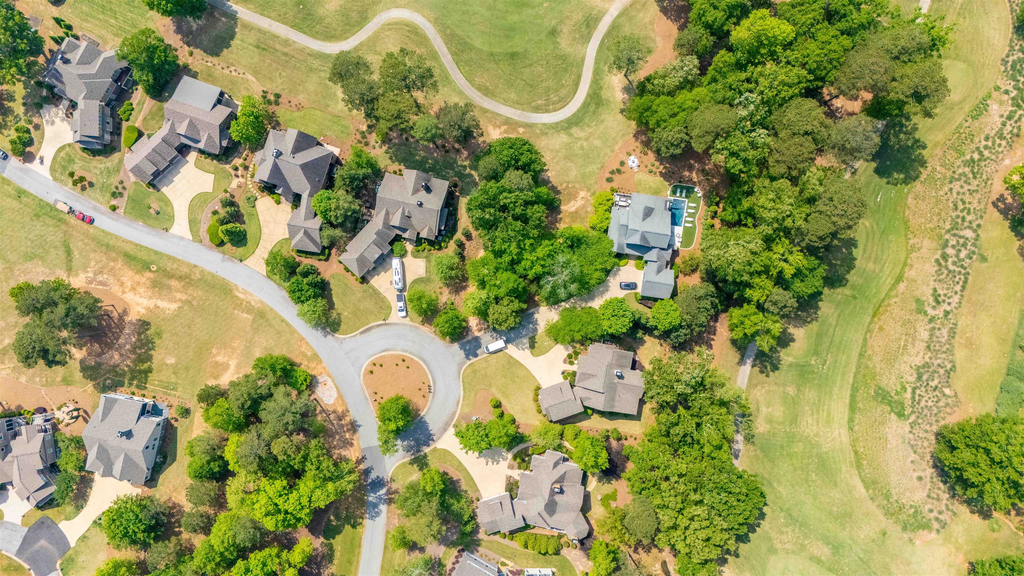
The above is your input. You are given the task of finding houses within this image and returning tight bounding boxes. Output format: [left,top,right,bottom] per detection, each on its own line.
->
[0,413,58,506]
[477,451,588,540]
[336,170,449,282]
[453,547,499,576]
[608,193,675,297]
[46,37,130,149]
[128,75,235,185]
[539,343,645,421]
[79,392,170,484]
[250,129,341,253]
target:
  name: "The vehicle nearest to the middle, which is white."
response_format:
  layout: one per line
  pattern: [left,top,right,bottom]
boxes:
[483,338,508,354]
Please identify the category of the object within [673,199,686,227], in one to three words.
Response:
swimming pool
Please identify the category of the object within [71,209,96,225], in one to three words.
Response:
vehicle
